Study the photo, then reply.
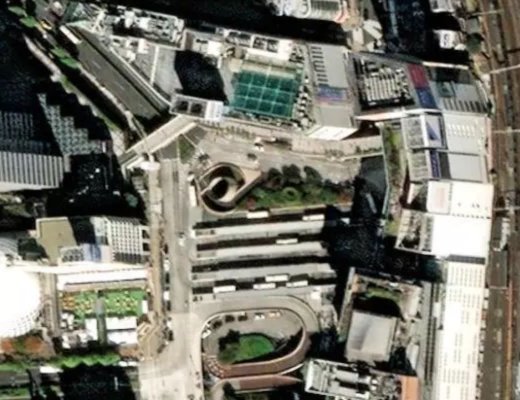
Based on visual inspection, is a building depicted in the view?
Yes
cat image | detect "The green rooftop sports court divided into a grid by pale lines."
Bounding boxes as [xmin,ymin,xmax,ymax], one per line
[226,66,299,120]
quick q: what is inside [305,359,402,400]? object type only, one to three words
building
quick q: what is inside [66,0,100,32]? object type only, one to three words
building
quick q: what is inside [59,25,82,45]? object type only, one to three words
bus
